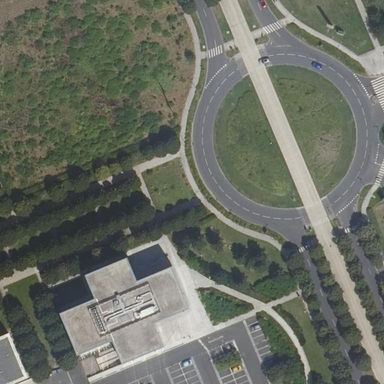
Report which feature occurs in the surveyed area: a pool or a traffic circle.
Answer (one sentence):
Visible in the photo is a traffic circle.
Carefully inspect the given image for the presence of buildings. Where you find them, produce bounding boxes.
[0,334,28,384]
[57,258,188,380]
